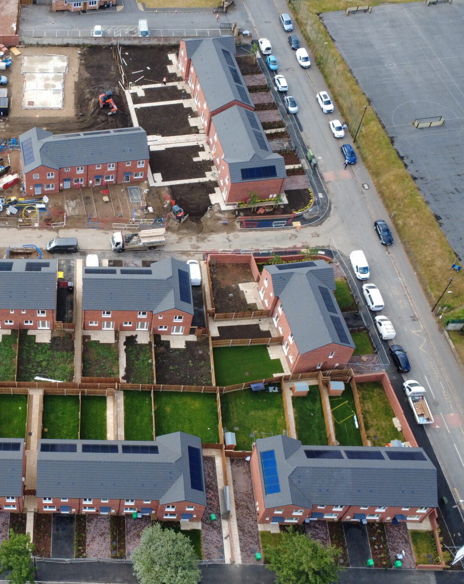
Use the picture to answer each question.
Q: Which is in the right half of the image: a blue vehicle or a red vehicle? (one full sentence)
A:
It is a blue vehicle that can be seen in the right half of the image.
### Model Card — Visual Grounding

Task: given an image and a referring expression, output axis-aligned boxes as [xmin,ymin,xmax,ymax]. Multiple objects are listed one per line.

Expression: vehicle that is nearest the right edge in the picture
[402,383,436,420]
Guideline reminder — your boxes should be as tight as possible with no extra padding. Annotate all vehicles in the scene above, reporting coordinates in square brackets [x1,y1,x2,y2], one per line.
[388,344,412,373]
[329,118,345,138]
[375,315,398,341]
[47,235,80,253]
[85,253,100,269]
[340,144,357,165]
[273,76,290,92]
[0,74,8,85]
[363,284,384,311]
[186,261,202,287]
[266,55,278,71]
[375,220,392,245]
[92,23,103,37]
[282,95,298,114]
[279,12,293,30]
[402,383,436,420]
[138,17,148,36]
[288,34,300,49]
[317,91,333,112]
[112,227,166,251]
[350,248,371,278]
[257,39,273,55]
[295,45,311,66]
